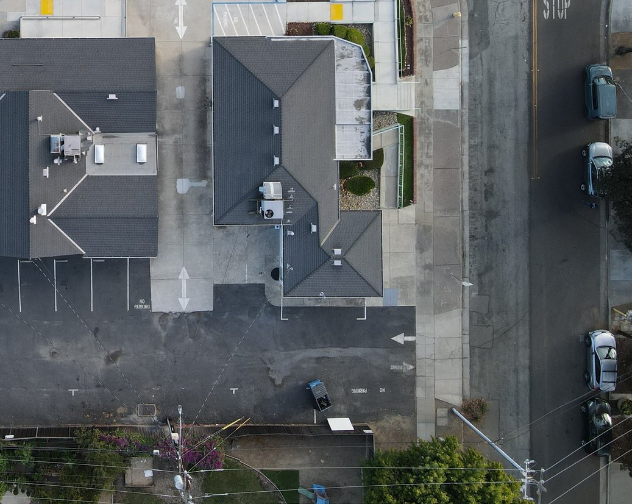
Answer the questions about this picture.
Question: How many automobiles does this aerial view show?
4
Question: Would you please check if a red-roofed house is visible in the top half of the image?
No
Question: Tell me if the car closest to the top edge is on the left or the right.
right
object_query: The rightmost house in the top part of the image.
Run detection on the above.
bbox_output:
[211,35,384,299]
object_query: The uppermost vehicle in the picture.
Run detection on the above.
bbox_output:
[584,63,618,119]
